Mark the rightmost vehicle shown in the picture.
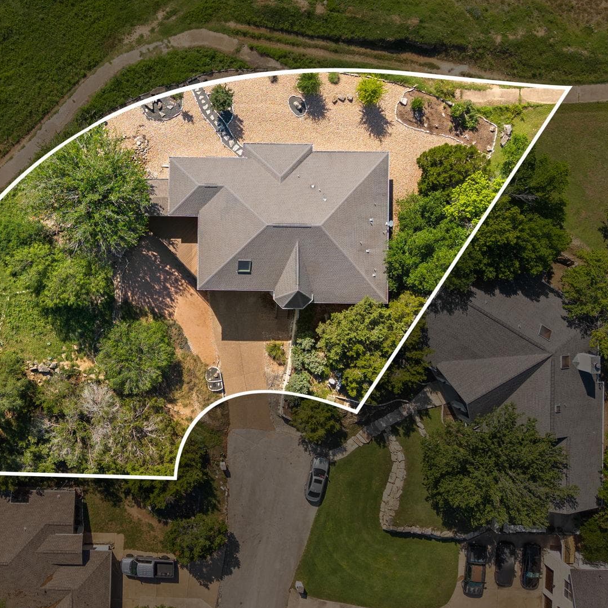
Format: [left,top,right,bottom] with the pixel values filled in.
[522,544,545,590]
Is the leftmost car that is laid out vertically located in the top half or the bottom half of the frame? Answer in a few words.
bottom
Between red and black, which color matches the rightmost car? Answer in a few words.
black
